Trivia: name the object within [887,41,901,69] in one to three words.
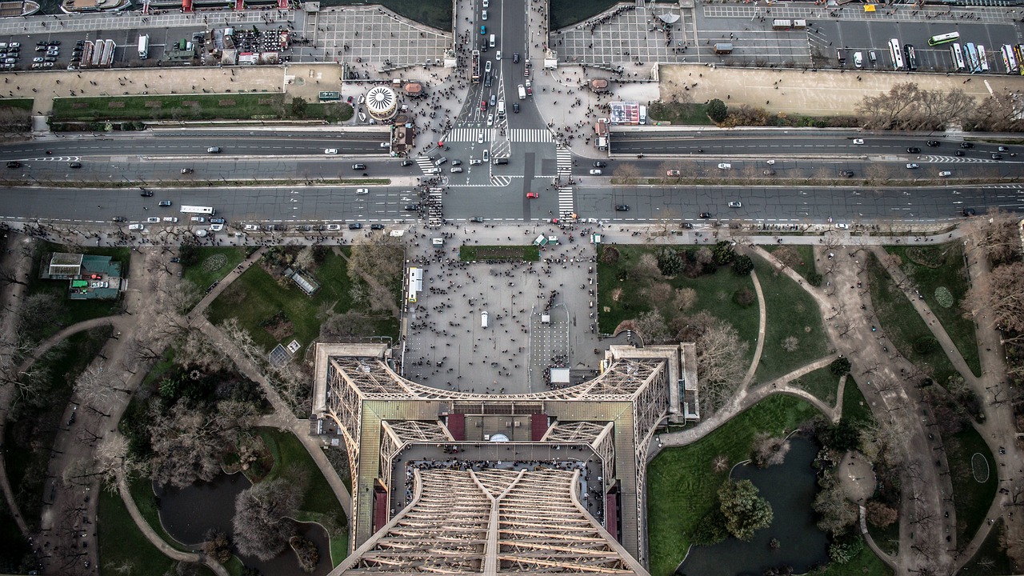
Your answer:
vehicle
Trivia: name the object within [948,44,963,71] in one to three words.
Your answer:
vehicle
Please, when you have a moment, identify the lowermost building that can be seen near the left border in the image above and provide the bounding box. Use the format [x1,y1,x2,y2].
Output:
[39,252,127,301]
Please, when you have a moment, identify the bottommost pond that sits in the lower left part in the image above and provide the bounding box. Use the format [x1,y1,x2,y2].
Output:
[155,473,332,576]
